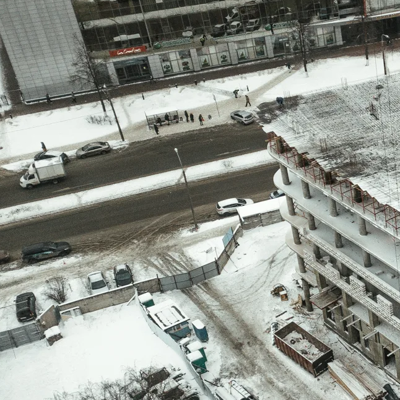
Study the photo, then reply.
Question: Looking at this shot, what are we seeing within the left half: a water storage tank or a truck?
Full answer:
Looking within the left half, you will find a truck.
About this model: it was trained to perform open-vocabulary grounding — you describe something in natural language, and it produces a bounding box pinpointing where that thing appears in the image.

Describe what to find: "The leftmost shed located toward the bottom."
[43,325,66,346]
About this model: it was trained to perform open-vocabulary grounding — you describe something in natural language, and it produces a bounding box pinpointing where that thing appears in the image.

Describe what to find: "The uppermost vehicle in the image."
[227,108,257,124]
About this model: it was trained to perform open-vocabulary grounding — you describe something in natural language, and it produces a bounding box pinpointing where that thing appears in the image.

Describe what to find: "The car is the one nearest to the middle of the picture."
[216,195,253,215]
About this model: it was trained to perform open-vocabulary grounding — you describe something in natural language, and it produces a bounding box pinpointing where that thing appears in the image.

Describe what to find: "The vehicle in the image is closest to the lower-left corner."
[14,291,38,322]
